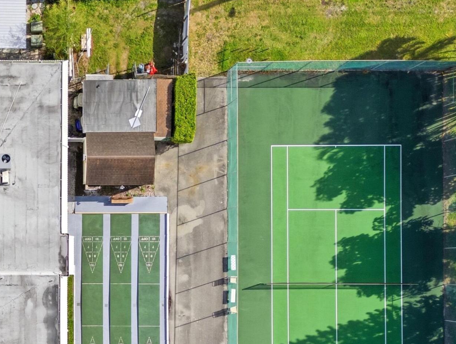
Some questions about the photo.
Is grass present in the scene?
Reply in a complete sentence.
Yes, some grass is visible.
